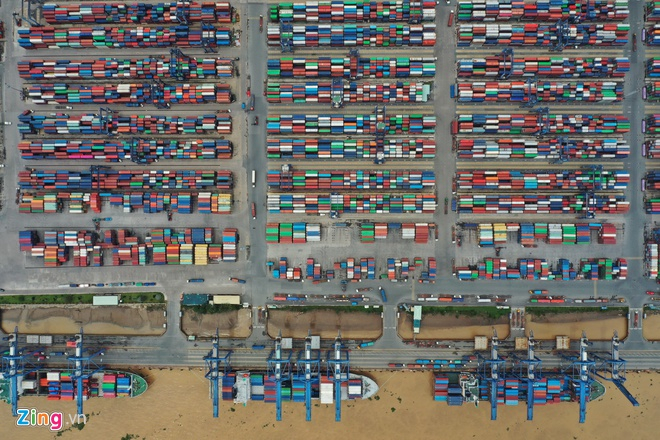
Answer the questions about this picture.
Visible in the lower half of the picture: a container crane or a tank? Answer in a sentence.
It is a container crane that can be seen in the lower half of the picture.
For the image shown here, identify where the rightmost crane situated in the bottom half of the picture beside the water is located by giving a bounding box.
[587,330,641,408]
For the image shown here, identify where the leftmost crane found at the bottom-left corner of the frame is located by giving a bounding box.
[4,325,48,417]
